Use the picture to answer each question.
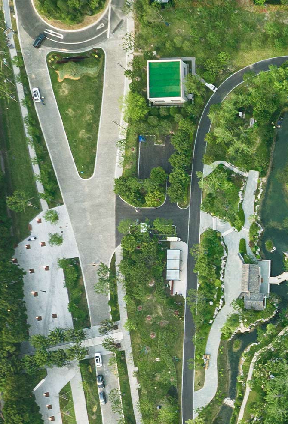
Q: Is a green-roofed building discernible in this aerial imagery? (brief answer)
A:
Yes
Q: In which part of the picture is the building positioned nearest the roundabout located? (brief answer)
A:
top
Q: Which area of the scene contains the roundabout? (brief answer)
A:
top left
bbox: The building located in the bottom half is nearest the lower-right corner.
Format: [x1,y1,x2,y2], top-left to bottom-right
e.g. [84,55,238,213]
[240,292,268,311]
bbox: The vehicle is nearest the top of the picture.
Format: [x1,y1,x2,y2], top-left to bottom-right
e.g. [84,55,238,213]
[32,33,46,48]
